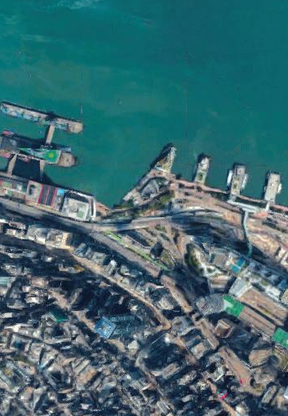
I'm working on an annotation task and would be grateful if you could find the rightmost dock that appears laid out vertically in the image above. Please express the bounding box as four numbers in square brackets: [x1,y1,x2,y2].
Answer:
[264,172,281,211]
